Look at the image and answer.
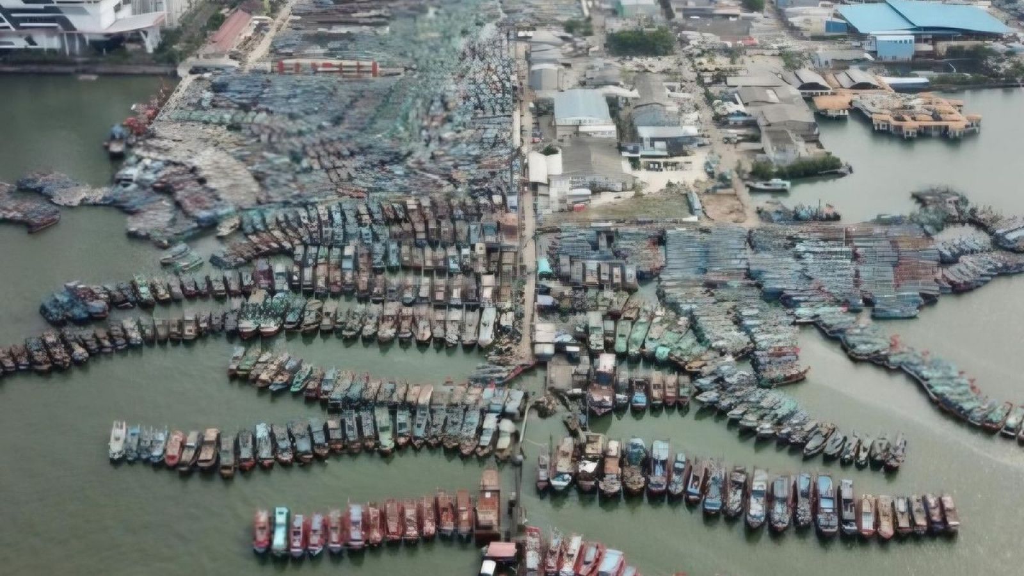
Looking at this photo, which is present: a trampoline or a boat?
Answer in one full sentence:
The one in the frame is a boat.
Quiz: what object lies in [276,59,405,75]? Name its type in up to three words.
ship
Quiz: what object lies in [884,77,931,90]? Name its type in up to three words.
building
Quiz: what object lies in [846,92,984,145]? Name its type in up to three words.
building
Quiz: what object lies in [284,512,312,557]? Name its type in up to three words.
boat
